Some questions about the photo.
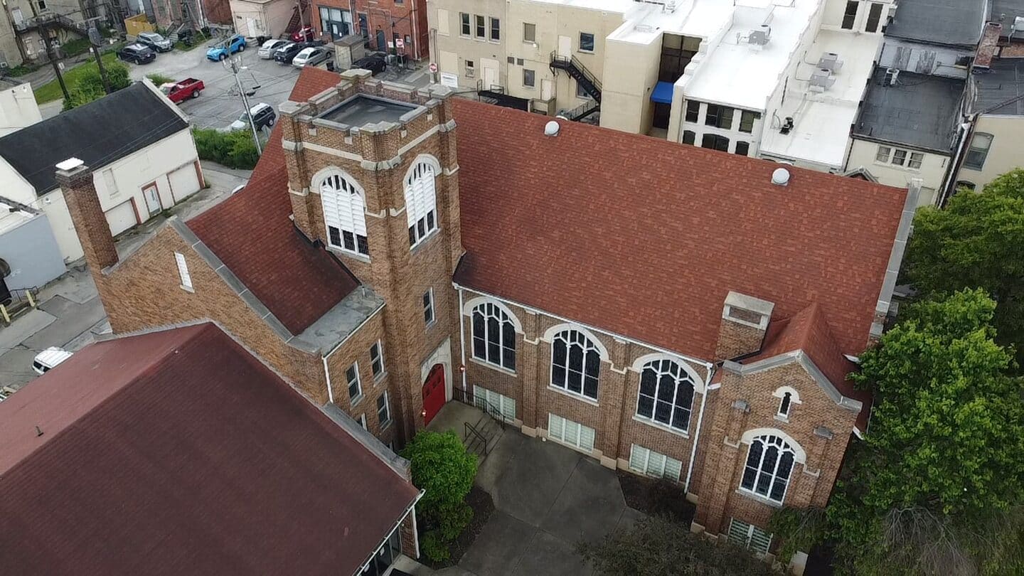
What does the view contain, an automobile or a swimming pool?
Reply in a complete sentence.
Looking from above, you can make out an automobile.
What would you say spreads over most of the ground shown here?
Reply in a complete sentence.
The largest share of the image is taken up by buildings.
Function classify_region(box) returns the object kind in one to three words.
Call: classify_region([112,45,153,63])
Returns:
car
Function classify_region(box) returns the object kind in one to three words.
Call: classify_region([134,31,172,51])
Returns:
car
